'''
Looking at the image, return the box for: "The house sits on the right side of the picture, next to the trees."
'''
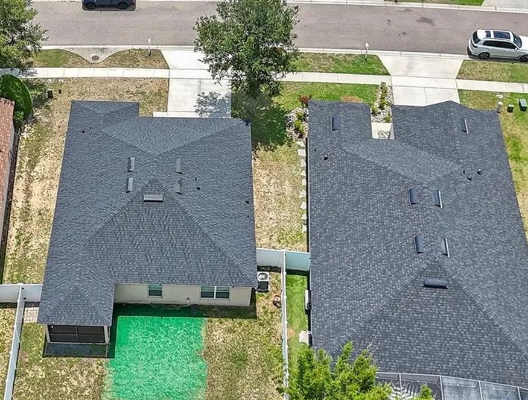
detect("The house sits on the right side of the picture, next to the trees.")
[309,99,528,400]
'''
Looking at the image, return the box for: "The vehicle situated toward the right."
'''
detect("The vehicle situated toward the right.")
[473,32,528,64]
